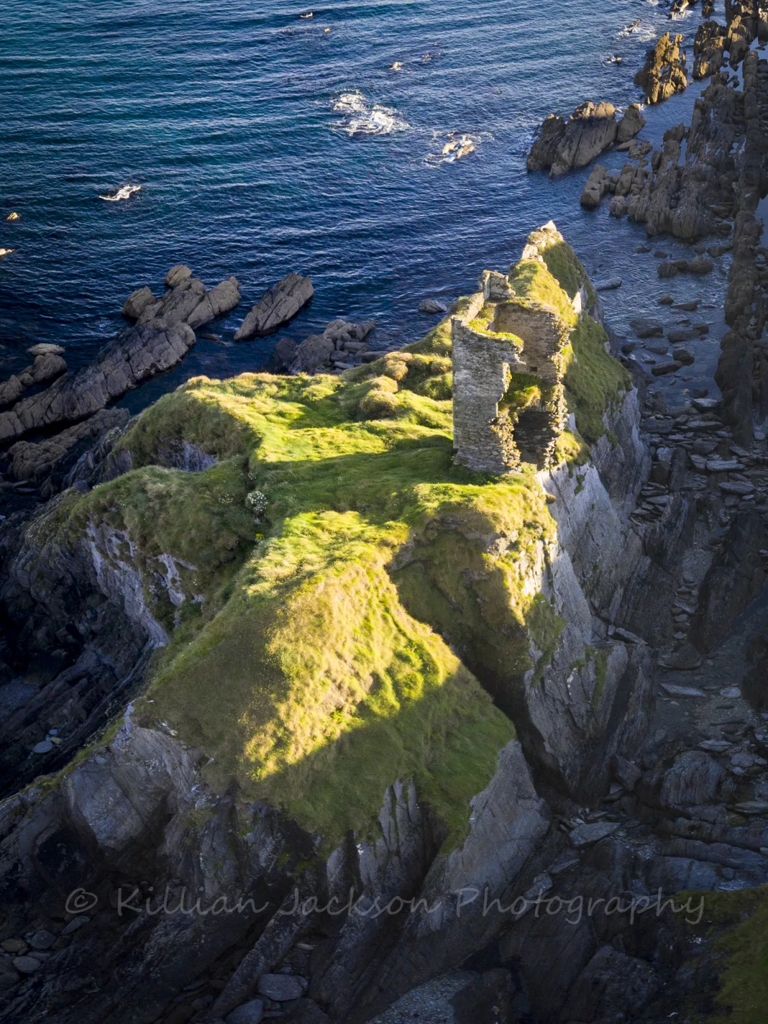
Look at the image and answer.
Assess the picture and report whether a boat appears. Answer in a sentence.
No, I can see no boat in this picture.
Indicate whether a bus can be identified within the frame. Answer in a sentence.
No, this view has no bus in it.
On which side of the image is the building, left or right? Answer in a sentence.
The building is on the right side of the image.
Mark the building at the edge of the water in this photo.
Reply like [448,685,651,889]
[451,257,574,481]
